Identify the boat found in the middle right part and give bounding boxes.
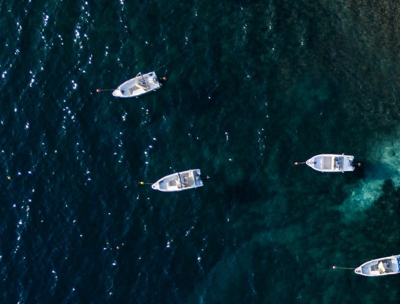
[306,153,363,173]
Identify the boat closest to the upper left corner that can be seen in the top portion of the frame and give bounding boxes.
[112,71,166,97]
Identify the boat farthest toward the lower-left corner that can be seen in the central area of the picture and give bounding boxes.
[151,170,210,192]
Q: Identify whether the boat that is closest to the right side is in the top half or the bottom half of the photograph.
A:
bottom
